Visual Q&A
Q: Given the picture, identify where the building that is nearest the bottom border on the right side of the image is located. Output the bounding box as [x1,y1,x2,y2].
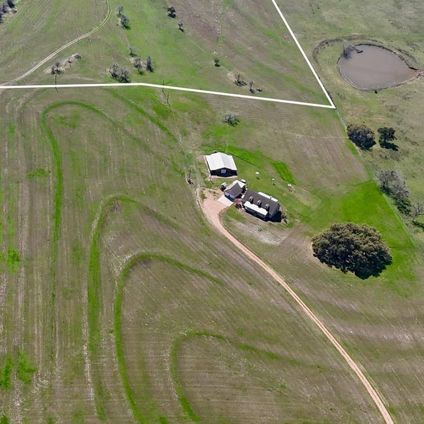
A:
[241,191,287,221]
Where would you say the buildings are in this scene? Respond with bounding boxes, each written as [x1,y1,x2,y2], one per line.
[241,191,287,221]
[224,177,253,199]
[207,150,239,174]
